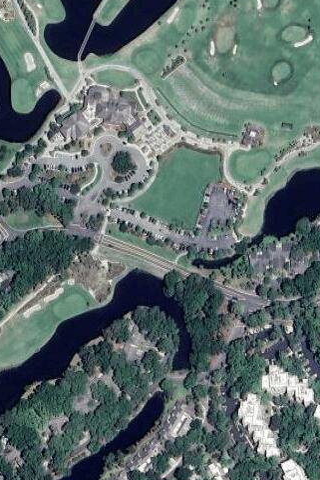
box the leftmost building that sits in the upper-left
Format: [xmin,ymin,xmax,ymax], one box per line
[59,109,95,142]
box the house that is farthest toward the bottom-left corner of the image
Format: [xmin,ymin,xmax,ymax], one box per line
[0,443,26,465]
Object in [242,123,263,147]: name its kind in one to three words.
building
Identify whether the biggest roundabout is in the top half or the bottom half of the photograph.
top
